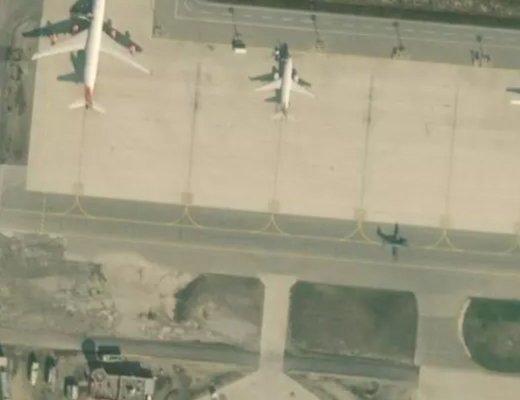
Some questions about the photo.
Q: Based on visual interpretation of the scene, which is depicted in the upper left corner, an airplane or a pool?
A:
airplane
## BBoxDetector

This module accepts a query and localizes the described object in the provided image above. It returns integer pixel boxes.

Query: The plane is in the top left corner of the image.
[31,0,152,113]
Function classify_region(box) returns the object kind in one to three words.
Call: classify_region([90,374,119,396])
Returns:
house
